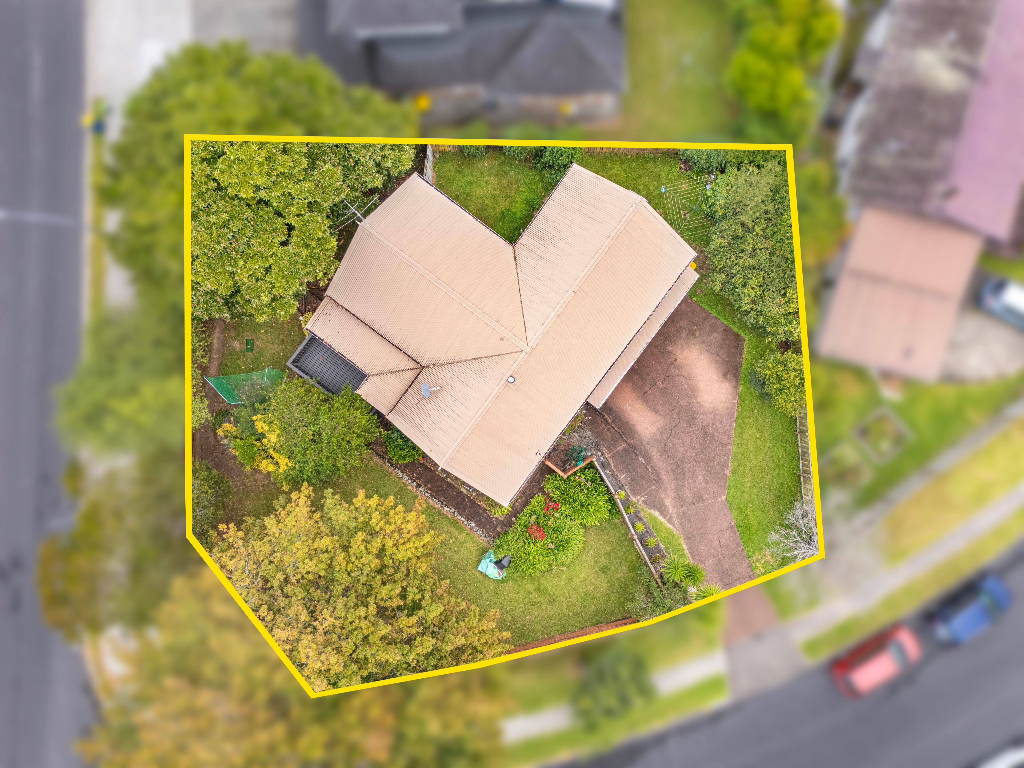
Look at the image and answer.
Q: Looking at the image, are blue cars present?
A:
Yes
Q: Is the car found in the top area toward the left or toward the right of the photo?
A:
right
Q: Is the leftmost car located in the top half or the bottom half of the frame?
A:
bottom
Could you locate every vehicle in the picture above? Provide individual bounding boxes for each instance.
[831,626,917,692]
[978,280,1024,329]
[926,575,1011,646]
[979,734,1024,768]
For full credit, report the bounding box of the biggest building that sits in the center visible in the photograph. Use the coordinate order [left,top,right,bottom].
[285,161,705,509]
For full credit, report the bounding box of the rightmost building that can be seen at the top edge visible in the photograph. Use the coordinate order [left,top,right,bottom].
[843,0,1024,243]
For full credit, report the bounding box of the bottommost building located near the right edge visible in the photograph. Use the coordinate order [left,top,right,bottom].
[801,206,985,383]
